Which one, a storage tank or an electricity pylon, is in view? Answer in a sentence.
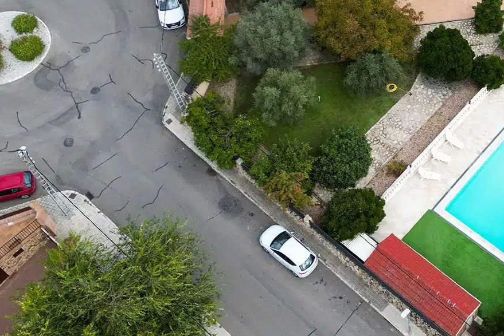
Looking from above, you can make out an electricity pylon.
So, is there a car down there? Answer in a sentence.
Yes, looking at the shot, I can spot a car.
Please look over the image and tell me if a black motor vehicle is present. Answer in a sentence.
No, no black motor vehicle can be seen from above.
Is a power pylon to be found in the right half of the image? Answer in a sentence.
No, no power pylon is visible in the right half of the image.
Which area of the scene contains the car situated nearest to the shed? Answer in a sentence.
Look in the bottom portion of the view to spot the car situated nearest to the shed.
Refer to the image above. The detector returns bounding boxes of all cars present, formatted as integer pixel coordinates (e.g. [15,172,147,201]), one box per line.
[154,0,185,32]
[0,171,37,201]
[256,225,322,280]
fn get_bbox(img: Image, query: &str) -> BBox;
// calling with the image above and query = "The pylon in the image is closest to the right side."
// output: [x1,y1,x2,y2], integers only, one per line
[150,47,189,113]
